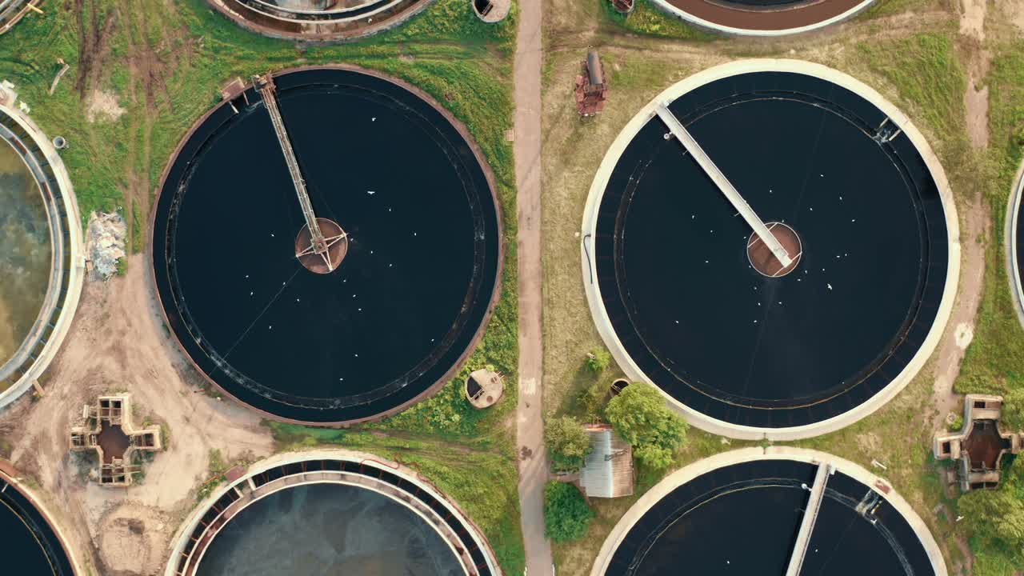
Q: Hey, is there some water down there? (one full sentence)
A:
Yes, there's water in this view.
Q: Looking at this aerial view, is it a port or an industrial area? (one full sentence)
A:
This image shows an industrial area.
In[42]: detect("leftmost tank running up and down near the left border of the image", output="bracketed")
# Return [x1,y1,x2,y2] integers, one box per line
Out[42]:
[0,95,88,410]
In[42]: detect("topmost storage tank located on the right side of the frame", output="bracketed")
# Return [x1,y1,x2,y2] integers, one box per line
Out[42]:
[645,0,875,40]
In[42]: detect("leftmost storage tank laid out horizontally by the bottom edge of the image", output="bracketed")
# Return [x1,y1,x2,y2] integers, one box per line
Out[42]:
[164,449,502,576]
